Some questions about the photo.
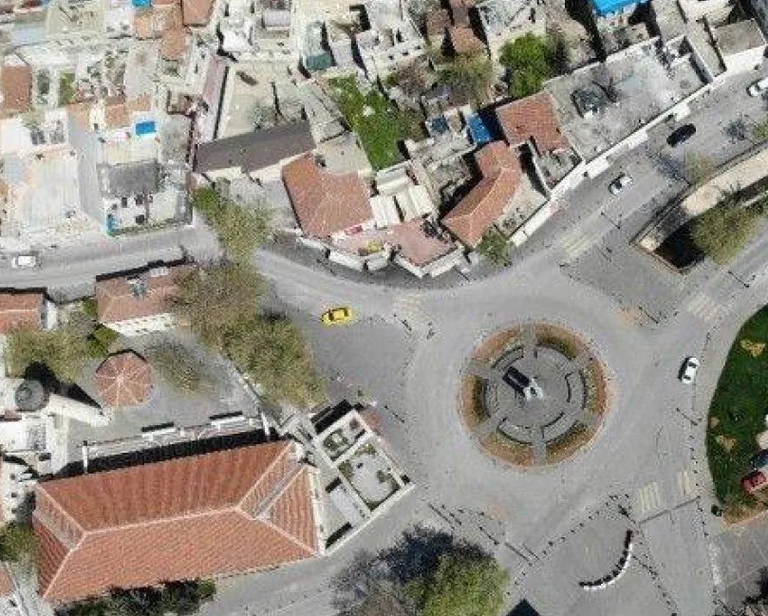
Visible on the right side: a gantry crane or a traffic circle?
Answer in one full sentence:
You can see a traffic circle on the right side.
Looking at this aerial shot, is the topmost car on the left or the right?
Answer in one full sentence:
The topmost car is on the right side of the image.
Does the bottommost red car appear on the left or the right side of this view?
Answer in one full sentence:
It is on the right.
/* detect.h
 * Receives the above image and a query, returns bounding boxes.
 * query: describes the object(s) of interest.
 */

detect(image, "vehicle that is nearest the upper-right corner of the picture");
[747,74,768,95]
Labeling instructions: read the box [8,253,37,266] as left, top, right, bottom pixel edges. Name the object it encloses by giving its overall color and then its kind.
white vehicle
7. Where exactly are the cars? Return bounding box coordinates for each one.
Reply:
[8,253,37,266]
[322,307,350,323]
[667,123,694,144]
[683,355,698,385]
[747,74,768,95]
[609,172,633,192]
[750,450,768,470]
[742,471,768,491]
